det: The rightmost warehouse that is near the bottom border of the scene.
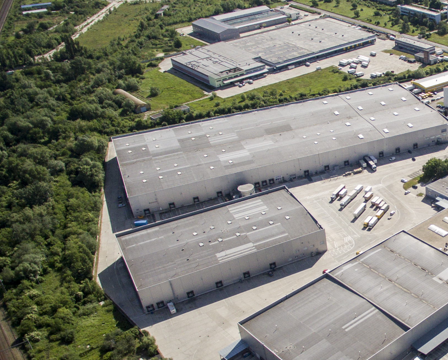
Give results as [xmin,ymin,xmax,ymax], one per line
[237,230,448,360]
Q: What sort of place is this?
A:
industrial area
